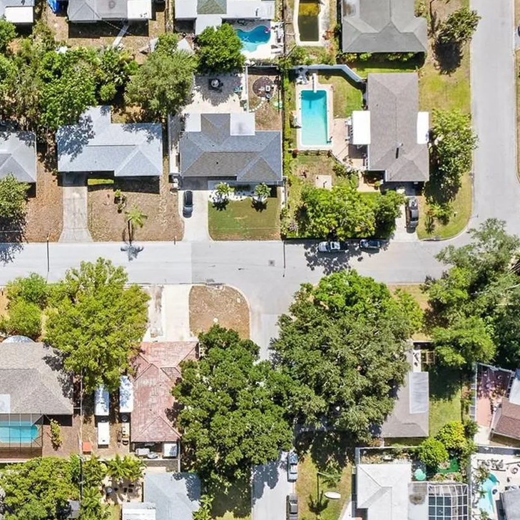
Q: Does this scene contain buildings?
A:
Yes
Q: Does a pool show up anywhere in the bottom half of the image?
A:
Yes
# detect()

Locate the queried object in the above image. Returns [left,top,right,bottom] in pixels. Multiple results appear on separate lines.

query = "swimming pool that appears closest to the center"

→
[299,89,329,147]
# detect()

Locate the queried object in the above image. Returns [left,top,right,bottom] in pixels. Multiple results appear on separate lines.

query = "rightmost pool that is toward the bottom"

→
[478,473,500,518]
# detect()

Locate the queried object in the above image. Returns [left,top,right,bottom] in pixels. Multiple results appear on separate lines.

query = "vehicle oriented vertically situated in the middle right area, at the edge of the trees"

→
[405,200,419,229]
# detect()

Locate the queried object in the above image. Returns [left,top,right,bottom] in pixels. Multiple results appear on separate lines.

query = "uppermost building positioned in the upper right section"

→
[335,0,428,56]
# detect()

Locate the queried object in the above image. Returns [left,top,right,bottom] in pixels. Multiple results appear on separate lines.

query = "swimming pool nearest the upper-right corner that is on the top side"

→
[296,0,324,42]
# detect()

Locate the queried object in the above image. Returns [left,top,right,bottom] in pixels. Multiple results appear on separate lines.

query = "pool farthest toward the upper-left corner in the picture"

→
[237,23,272,52]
